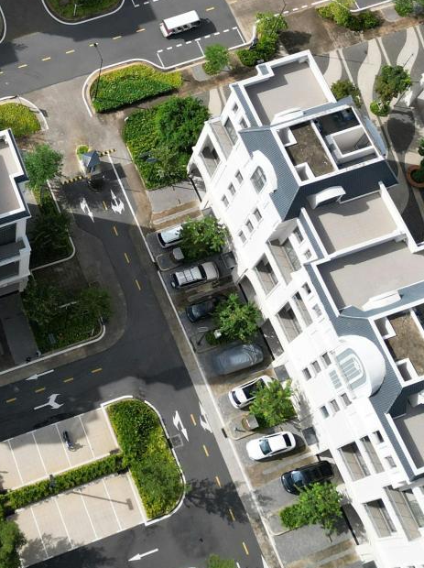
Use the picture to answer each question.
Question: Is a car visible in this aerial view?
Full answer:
Yes, the picture does show a car.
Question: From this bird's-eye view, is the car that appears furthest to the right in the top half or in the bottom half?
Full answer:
The car that appears furthest to the right sits in the bottom half of the picture.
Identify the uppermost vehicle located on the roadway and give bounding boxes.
[156,6,208,39]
